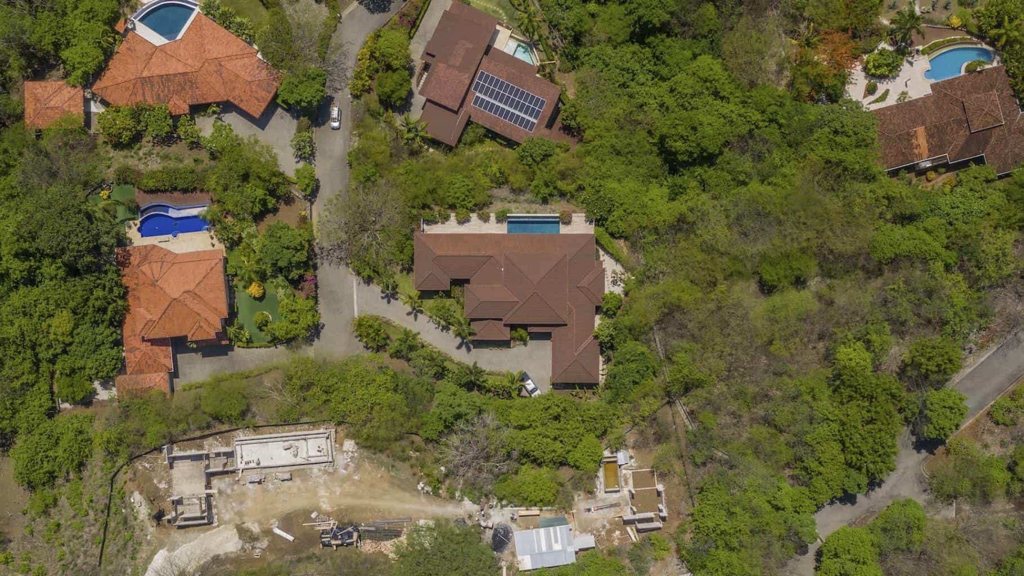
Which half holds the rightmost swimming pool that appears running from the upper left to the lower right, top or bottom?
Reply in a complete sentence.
The rightmost swimming pool that appears running from the upper left to the lower right is in the top half of the image.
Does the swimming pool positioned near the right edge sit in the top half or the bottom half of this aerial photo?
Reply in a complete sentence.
The swimming pool positioned near the right edge is in the top half of the image.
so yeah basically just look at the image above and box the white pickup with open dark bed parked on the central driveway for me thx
[521,371,541,396]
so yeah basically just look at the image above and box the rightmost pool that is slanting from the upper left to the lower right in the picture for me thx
[493,24,556,68]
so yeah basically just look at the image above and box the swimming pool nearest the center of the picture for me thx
[420,211,595,234]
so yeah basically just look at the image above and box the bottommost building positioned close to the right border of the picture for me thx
[868,65,1024,176]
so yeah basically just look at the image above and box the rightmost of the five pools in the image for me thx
[847,34,1002,108]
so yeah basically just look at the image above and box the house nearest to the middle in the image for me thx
[414,234,605,383]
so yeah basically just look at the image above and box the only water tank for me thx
[601,454,622,493]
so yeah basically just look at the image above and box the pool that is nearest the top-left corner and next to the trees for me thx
[129,0,201,46]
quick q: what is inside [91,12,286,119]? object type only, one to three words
house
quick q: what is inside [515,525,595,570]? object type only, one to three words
shed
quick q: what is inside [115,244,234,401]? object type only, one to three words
house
